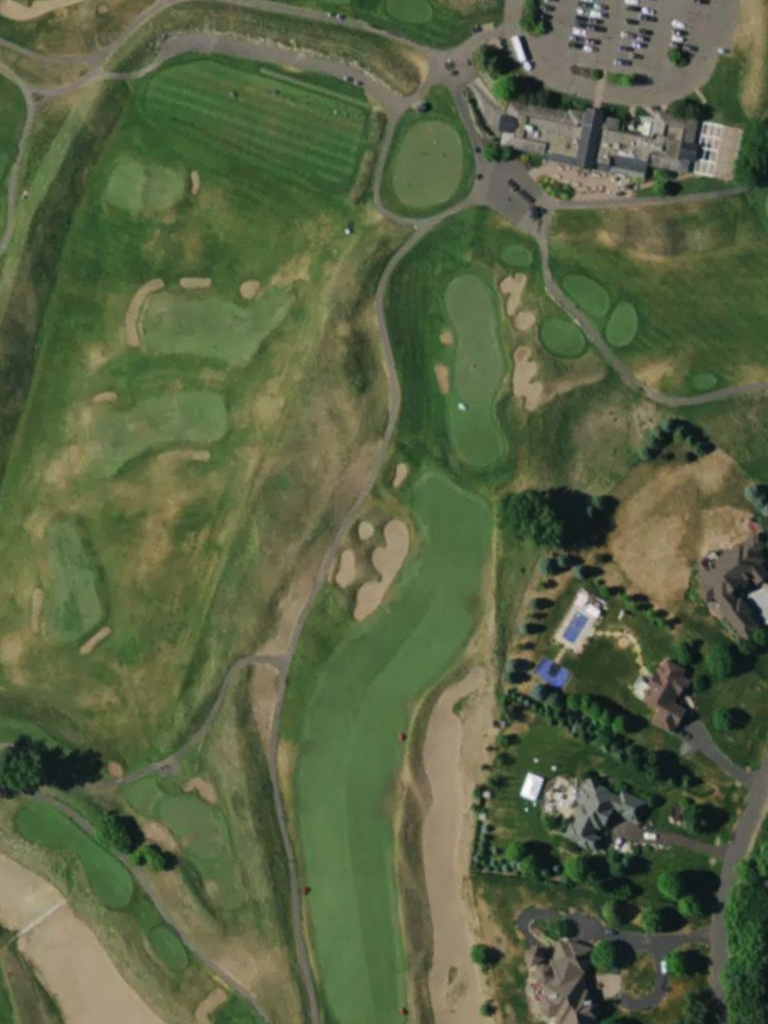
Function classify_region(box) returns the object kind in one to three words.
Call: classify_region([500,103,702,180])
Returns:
building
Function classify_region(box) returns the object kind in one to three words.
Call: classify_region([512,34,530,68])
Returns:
vehicle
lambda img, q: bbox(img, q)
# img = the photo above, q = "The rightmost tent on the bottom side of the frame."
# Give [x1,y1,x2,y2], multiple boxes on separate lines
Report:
[520,773,544,801]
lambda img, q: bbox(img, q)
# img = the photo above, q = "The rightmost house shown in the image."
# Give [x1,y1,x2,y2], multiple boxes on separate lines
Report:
[713,527,768,625]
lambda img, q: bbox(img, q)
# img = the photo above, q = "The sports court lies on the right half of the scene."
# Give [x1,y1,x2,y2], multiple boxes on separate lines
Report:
[536,656,570,688]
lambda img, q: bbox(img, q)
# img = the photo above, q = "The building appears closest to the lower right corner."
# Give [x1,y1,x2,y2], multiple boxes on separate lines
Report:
[524,933,596,1024]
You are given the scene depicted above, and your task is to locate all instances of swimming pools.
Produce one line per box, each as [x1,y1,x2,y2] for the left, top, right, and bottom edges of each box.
[556,588,600,653]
